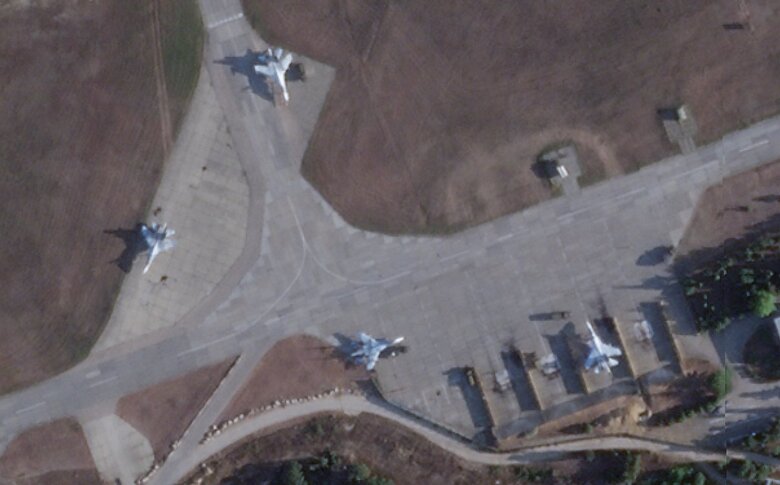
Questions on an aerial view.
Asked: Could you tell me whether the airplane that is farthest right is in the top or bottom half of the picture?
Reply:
bottom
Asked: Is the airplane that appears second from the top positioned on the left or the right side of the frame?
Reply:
left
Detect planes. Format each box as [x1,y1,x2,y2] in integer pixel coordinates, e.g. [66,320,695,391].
[141,218,179,272]
[255,47,293,102]
[583,323,622,378]
[348,331,404,370]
